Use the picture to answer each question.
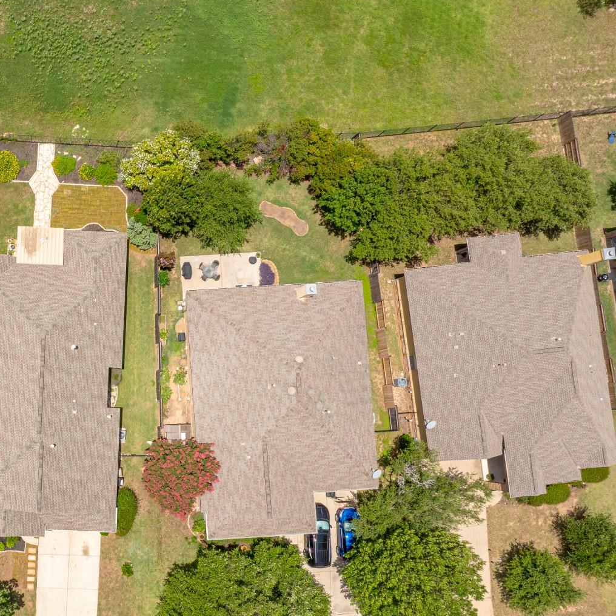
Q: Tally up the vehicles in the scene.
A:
two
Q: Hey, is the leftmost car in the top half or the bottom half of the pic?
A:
bottom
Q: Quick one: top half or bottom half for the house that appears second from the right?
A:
bottom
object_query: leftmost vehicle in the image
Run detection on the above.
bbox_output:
[304,506,333,564]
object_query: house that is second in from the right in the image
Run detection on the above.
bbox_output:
[184,278,379,540]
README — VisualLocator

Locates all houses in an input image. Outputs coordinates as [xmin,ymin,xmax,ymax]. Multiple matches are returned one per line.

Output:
[184,278,379,540]
[393,231,616,498]
[0,229,128,538]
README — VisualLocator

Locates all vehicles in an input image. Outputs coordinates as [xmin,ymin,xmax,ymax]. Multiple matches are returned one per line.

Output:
[304,506,333,564]
[339,506,367,562]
